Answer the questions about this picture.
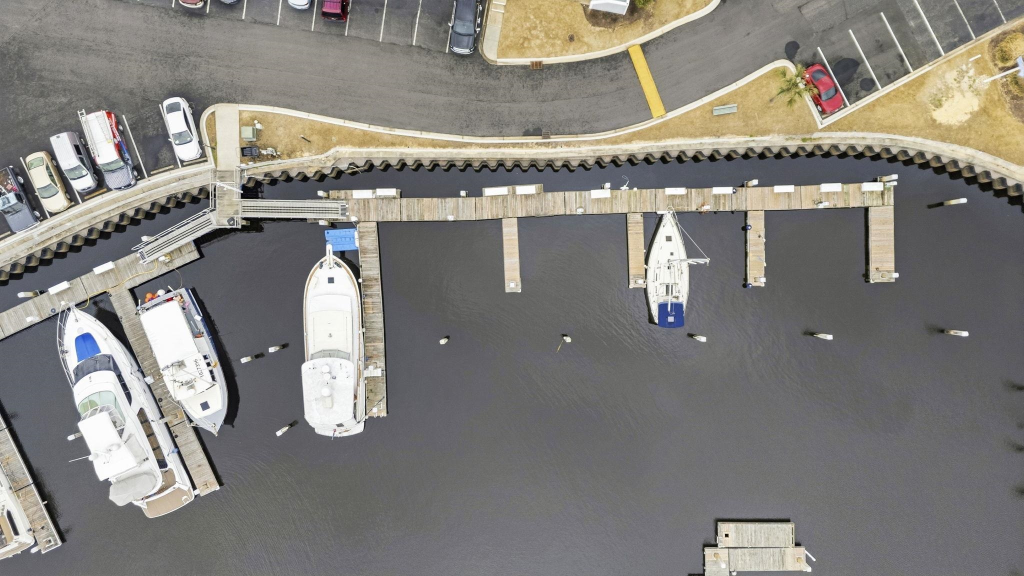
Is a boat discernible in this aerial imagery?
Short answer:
Yes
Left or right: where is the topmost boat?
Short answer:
right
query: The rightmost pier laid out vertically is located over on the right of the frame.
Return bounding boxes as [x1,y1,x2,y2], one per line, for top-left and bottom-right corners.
[864,206,895,282]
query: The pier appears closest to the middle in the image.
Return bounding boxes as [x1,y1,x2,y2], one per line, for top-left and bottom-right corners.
[500,218,523,293]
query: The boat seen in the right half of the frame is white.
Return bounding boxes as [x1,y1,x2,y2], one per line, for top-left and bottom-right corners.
[643,206,712,328]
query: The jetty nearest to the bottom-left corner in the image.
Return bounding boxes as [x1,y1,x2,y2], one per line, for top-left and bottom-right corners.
[20,483,63,552]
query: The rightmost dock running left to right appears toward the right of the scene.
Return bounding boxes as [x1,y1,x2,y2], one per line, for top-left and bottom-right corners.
[802,182,894,209]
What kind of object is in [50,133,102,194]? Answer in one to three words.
car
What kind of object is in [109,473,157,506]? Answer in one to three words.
boat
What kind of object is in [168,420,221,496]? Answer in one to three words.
pier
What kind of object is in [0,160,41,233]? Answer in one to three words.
vehicle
